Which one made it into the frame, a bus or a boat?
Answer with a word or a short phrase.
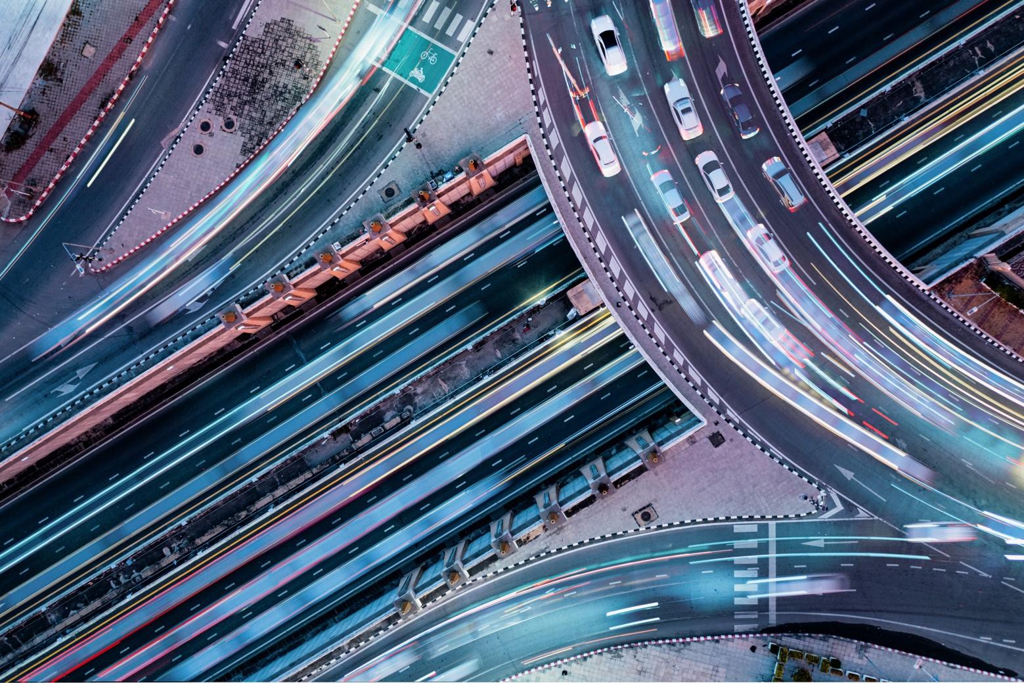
bus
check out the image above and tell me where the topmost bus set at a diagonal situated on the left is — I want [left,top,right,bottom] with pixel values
[345,0,423,78]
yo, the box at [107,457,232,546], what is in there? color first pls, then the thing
blue bus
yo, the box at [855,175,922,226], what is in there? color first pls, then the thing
blue van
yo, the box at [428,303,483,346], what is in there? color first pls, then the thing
blue car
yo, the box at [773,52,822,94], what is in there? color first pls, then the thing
blue truck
